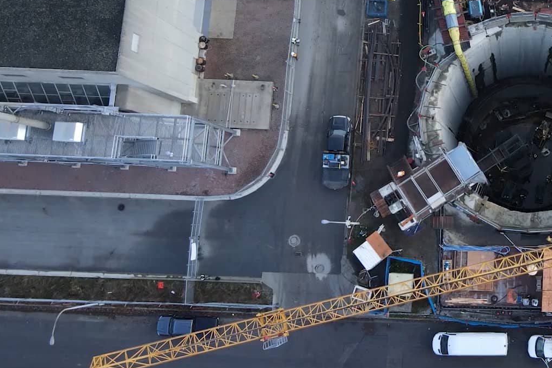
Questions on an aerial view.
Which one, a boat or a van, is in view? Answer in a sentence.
Looking from above, you can make out a van.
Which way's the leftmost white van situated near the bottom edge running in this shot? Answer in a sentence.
The leftmost white van situated near the bottom edge has been laid out horizontally relative to the frame.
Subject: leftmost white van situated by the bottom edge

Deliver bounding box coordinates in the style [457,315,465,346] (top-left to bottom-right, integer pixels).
[431,331,512,363]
